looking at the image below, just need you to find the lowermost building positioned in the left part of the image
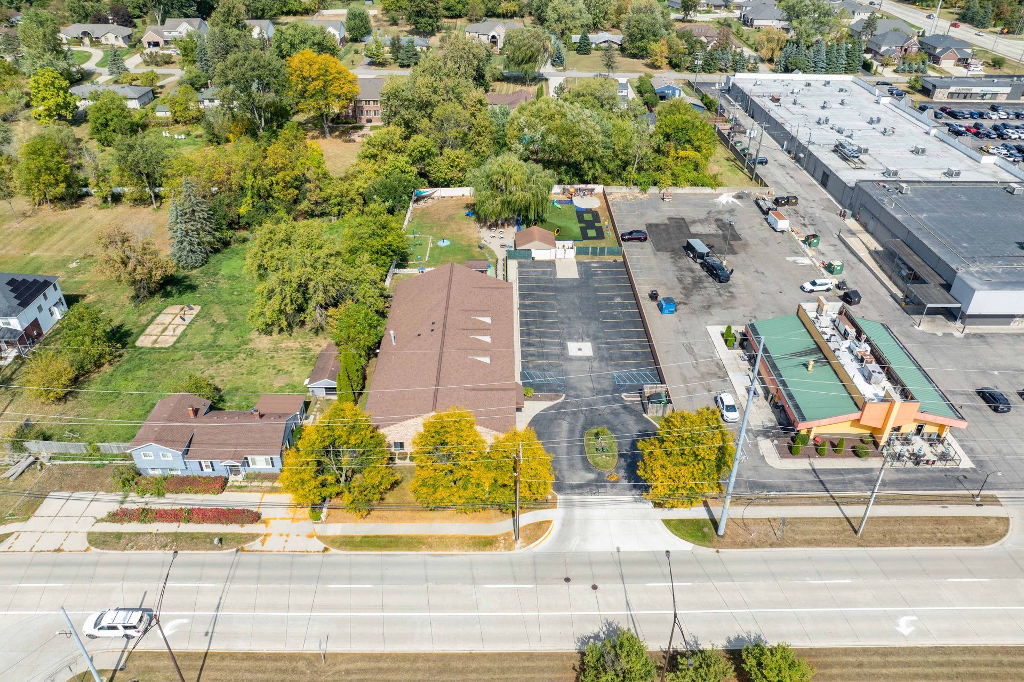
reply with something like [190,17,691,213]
[127,382,305,481]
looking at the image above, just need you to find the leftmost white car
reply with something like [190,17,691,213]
[84,611,150,642]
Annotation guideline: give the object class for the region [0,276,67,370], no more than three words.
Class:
house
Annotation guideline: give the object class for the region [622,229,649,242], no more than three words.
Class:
vehicle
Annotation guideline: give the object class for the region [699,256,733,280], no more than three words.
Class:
truck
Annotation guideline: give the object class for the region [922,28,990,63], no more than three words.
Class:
house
